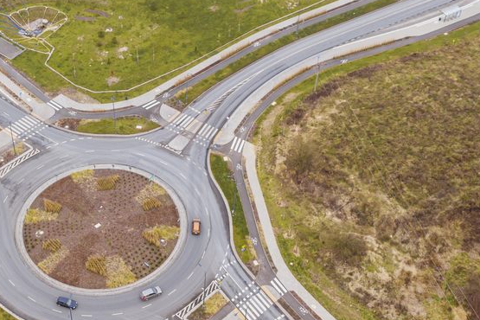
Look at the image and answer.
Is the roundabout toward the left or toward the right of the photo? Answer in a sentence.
The roundabout sits on the left side.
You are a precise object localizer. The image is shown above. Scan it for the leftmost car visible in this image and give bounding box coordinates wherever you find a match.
[53,295,80,311]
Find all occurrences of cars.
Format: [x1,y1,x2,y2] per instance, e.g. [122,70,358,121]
[138,284,163,303]
[190,221,201,237]
[53,295,80,311]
